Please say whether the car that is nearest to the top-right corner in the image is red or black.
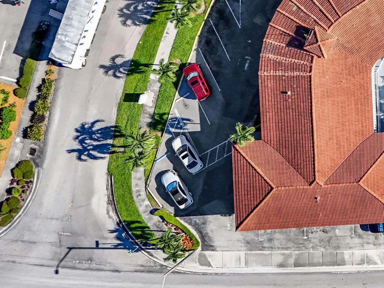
red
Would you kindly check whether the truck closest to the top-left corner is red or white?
white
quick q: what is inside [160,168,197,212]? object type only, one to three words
car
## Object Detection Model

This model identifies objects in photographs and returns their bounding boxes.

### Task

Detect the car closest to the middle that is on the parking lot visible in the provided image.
[171,134,207,177]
